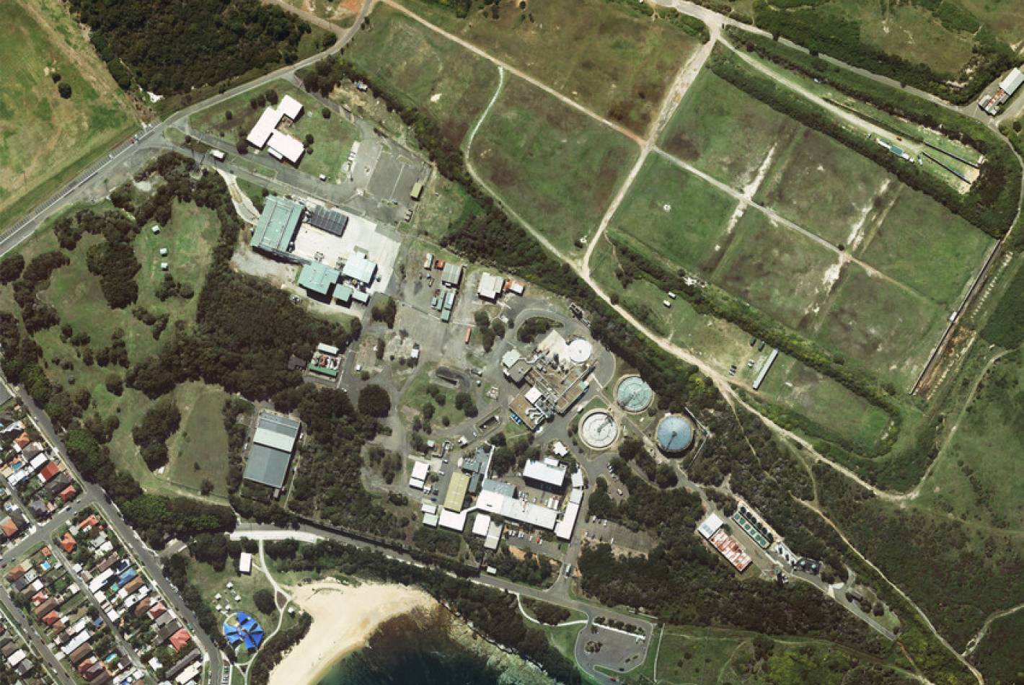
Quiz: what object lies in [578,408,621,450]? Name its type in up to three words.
storage tank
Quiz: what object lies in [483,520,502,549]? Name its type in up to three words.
building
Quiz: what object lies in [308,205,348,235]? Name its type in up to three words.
shed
